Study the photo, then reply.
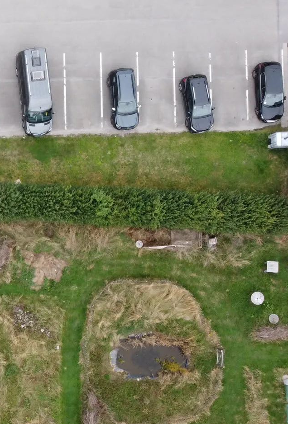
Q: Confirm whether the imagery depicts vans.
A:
Yes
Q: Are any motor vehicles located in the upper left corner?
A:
Yes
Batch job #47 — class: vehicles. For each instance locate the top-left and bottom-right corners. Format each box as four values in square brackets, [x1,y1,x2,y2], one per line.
[253,61,288,124]
[108,67,146,131]
[16,45,61,140]
[179,72,219,133]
